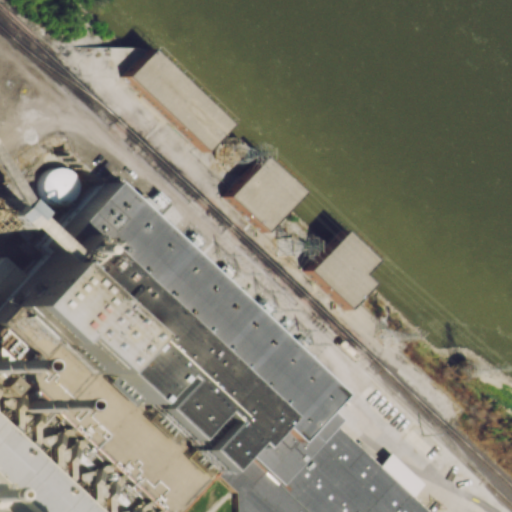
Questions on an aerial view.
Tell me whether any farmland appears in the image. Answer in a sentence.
No, the picture contains no farmland.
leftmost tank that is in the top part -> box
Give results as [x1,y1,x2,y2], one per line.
[35,168,82,208]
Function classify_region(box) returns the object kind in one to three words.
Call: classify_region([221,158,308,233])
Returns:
building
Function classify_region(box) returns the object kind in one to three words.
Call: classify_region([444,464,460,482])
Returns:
vehicle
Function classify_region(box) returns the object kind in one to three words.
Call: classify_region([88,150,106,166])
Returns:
vehicle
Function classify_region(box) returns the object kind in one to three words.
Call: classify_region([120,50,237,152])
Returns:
building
